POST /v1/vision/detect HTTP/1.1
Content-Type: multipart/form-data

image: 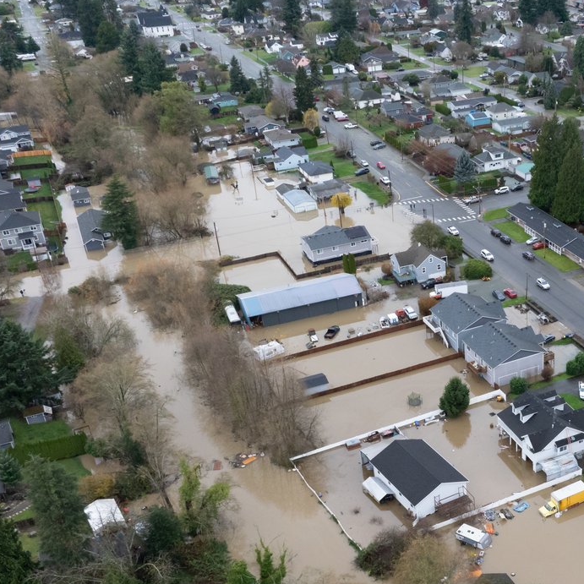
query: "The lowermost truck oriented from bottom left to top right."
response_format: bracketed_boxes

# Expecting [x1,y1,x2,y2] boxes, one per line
[538,476,584,519]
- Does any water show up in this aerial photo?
Yes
